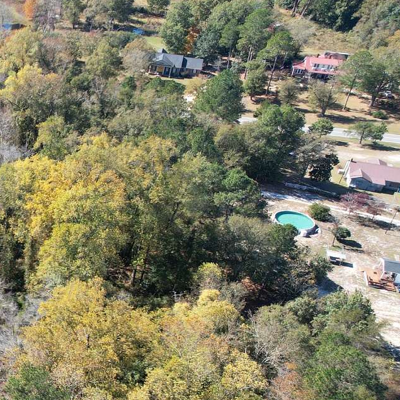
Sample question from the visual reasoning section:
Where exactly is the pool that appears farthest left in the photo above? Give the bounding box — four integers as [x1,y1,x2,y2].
[272,213,315,238]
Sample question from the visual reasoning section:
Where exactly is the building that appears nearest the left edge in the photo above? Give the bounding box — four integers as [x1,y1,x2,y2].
[147,51,204,78]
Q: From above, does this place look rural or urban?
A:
rural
